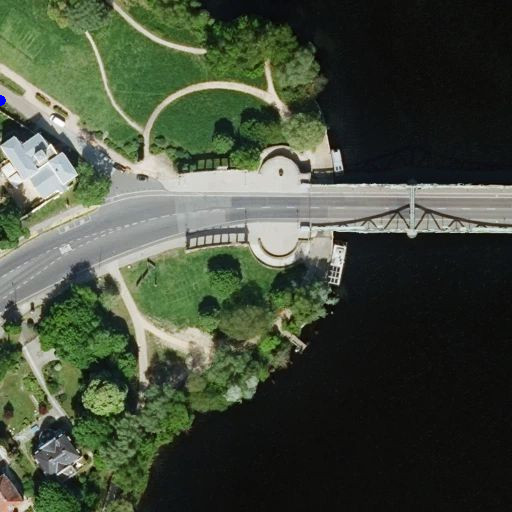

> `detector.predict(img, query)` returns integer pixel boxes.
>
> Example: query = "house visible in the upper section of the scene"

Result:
[0,133,76,198]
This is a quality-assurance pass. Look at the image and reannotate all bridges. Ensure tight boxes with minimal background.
[310,178,512,238]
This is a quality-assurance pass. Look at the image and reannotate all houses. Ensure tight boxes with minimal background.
[0,133,76,198]
[32,434,82,478]
[0,474,23,512]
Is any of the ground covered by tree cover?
Yes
